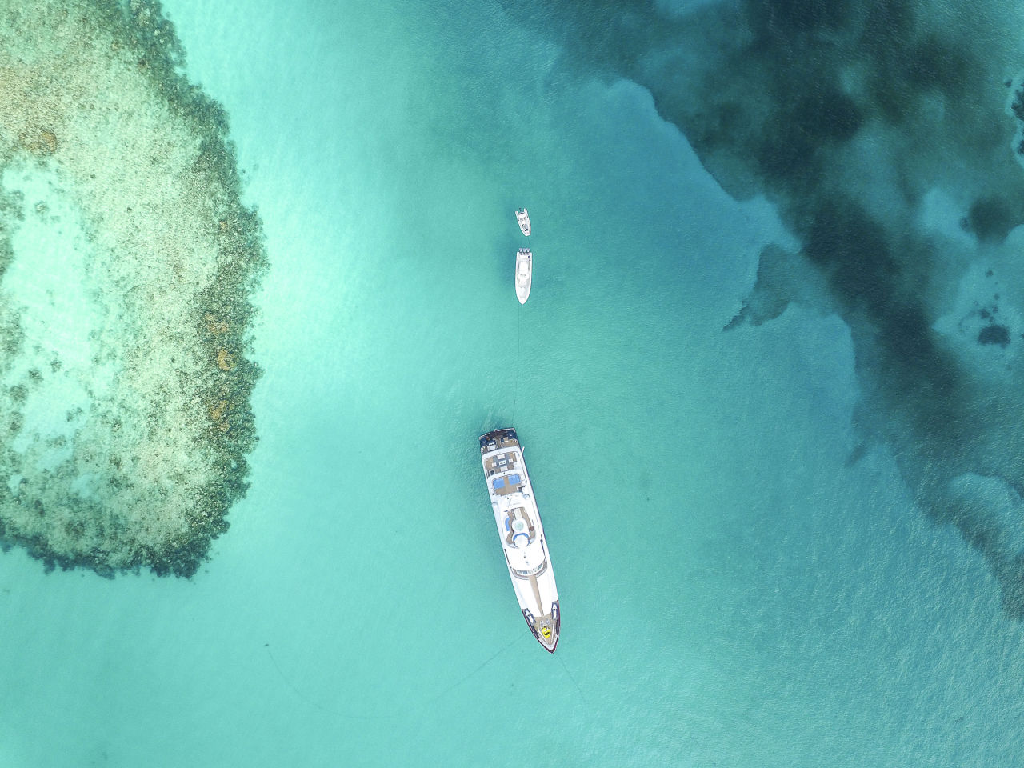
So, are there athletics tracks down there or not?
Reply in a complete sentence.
No, I can't see a single athletics track in this photo.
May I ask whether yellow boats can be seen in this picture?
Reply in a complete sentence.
No, the photo shows no yellow boat.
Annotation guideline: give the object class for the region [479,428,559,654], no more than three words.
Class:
boat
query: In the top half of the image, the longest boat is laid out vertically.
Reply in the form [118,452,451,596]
[515,247,532,302]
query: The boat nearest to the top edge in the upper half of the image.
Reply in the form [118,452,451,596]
[515,207,531,235]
